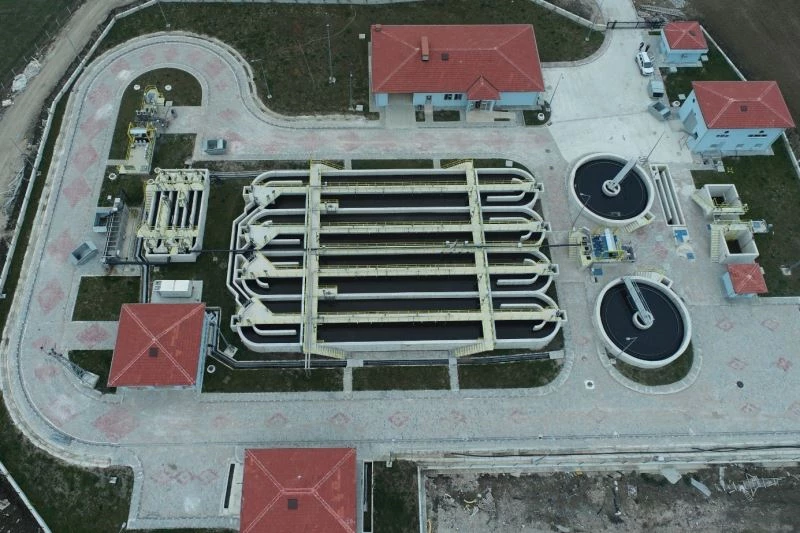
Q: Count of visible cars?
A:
one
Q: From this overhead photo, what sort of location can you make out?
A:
industrial area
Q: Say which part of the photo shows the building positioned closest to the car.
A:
top right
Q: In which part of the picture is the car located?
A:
top right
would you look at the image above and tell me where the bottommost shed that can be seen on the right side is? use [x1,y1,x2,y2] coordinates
[720,263,770,299]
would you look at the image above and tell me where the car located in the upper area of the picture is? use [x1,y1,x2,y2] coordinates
[640,53,661,76]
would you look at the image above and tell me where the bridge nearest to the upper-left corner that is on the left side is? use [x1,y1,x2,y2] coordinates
[304,156,320,356]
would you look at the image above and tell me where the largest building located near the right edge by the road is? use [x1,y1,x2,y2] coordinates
[677,80,797,156]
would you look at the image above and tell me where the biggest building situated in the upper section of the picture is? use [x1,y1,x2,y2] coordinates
[370,23,545,119]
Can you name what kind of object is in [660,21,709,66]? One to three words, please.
building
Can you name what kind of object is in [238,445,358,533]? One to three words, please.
building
